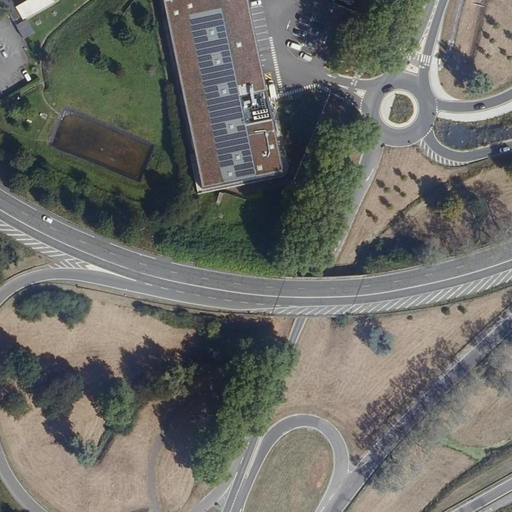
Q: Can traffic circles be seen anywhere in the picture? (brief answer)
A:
Yes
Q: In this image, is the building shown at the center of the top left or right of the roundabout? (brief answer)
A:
to its left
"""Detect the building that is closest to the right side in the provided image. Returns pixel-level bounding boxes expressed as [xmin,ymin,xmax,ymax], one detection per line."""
[164,0,284,194]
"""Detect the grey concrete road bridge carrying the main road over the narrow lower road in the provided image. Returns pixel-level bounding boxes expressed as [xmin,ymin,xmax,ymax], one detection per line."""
[272,274,364,318]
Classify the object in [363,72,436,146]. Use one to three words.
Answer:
roundabout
